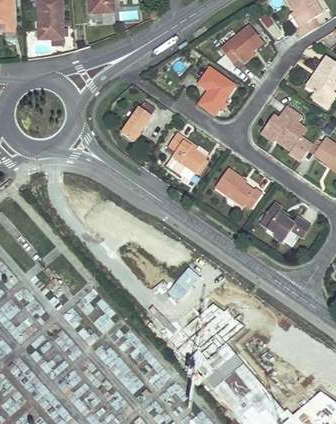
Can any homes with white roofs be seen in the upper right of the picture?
Yes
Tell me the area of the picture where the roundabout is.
top left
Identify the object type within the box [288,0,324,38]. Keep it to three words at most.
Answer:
house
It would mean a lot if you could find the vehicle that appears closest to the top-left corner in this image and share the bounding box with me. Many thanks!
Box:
[152,34,180,55]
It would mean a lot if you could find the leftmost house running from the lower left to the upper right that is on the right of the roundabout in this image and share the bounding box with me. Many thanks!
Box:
[123,107,152,142]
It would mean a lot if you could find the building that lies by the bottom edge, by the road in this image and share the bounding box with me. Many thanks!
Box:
[161,296,336,424]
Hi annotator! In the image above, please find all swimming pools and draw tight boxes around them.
[119,10,140,22]
[173,60,187,74]
[36,44,51,54]
[271,0,285,9]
